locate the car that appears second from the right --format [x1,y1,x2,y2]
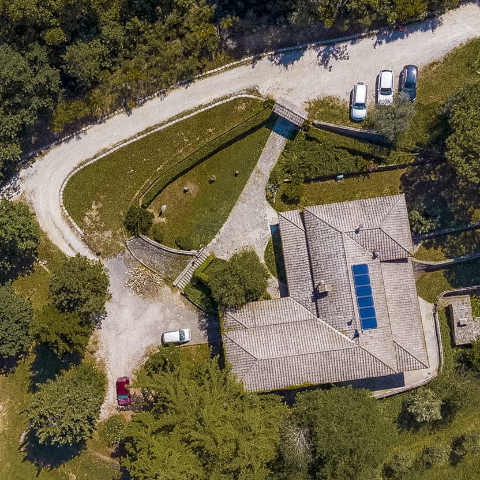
[375,69,394,107]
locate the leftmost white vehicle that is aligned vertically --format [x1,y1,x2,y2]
[348,82,366,123]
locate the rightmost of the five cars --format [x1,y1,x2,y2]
[398,64,417,104]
